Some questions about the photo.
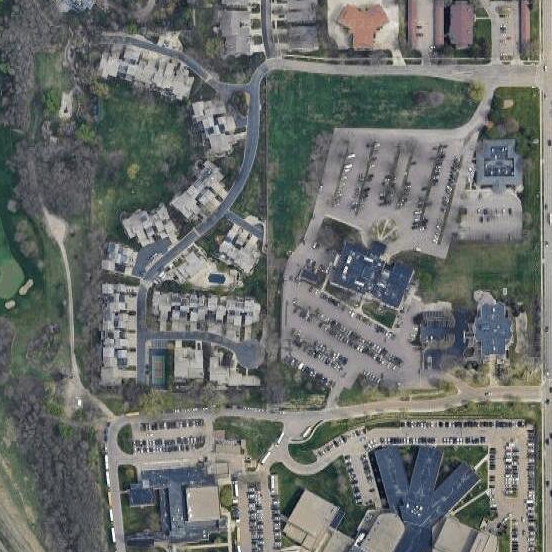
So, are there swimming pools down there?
Yes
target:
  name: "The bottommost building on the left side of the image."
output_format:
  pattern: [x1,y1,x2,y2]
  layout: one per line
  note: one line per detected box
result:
[128,463,230,547]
